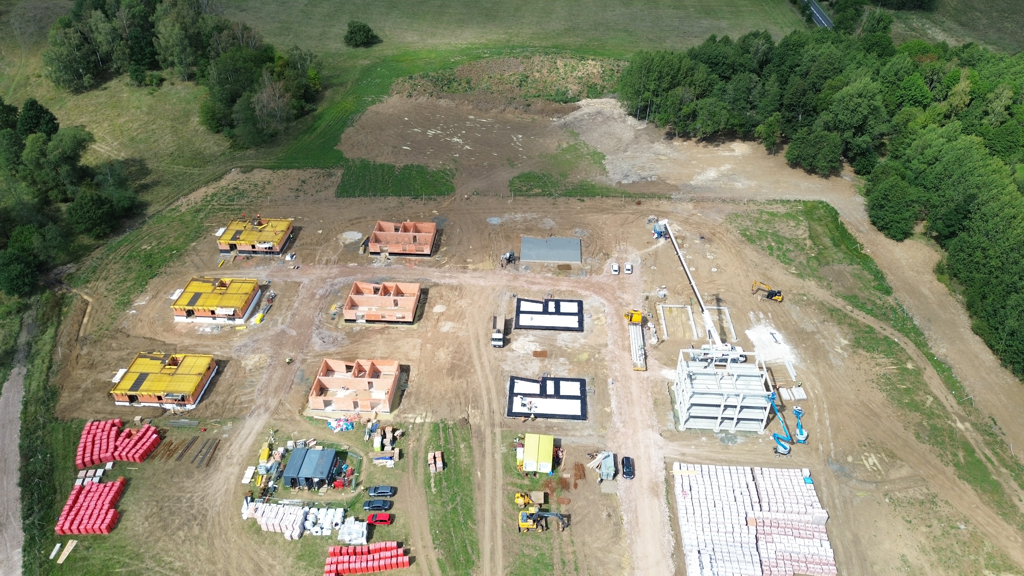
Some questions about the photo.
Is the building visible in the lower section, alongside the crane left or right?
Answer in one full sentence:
The building visible in the lower section, alongside the crane sits on the right side.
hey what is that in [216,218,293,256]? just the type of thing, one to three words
house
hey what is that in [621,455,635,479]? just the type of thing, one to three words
car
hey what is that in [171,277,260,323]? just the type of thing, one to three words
house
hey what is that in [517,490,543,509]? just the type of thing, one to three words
vehicle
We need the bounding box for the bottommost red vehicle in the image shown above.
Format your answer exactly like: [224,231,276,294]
[366,510,394,525]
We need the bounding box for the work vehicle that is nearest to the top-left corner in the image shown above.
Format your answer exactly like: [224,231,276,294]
[501,250,515,268]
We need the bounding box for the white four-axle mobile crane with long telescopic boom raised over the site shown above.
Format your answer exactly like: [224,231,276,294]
[639,223,756,365]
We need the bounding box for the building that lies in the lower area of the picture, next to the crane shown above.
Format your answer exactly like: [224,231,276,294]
[670,350,771,437]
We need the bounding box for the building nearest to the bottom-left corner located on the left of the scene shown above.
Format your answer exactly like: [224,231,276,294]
[110,352,217,410]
